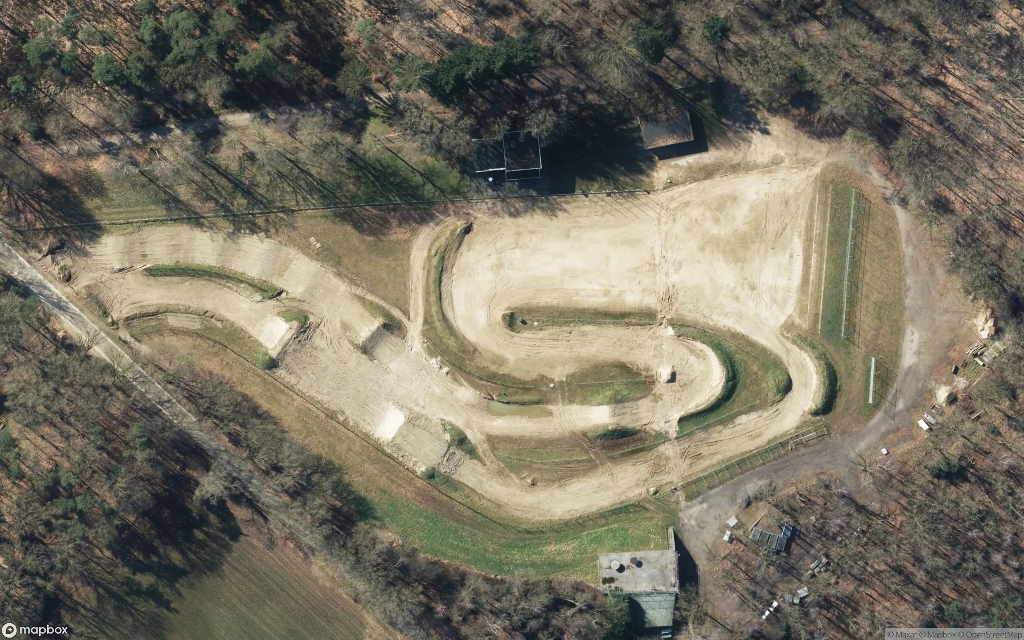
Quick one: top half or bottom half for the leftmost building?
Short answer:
top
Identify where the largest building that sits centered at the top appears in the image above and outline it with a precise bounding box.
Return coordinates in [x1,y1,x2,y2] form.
[472,130,542,180]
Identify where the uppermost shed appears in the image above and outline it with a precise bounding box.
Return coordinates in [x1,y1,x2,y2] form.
[639,106,694,149]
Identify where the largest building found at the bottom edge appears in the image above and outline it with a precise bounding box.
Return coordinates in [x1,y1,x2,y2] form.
[599,526,682,628]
